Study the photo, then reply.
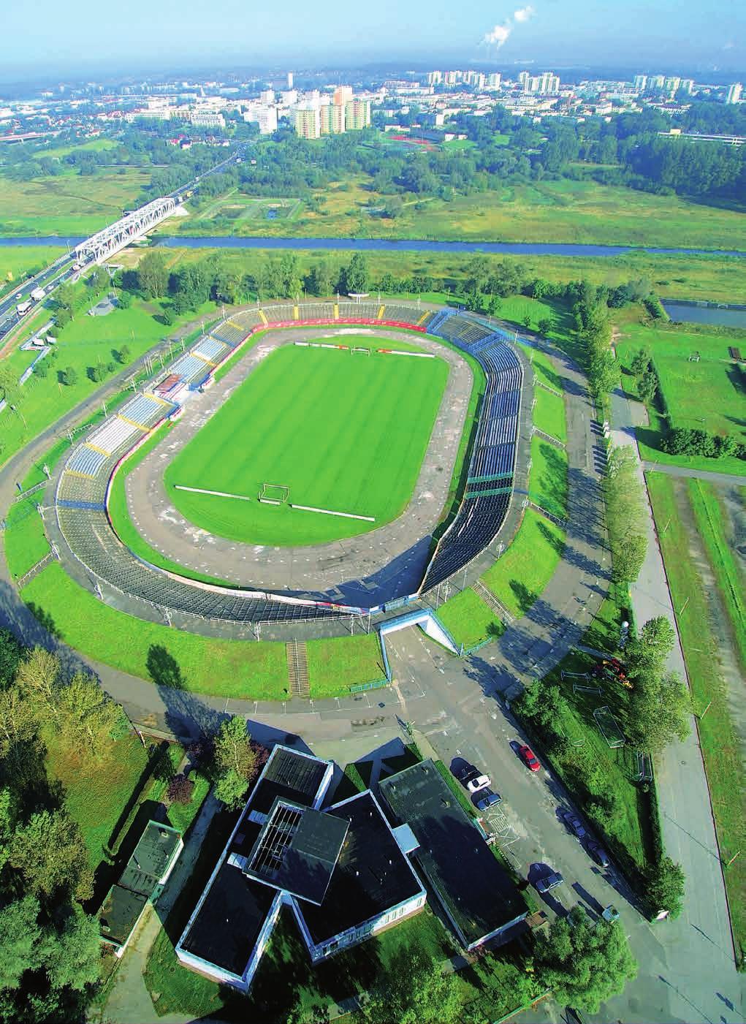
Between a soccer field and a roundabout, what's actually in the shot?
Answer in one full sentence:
The image shows a soccer field.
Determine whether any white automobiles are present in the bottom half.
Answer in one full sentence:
Yes, there is a white automobile in the bottom half.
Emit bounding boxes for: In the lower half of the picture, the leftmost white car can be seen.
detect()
[466,773,492,793]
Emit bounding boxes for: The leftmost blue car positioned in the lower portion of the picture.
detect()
[476,792,502,812]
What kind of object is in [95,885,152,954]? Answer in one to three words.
shed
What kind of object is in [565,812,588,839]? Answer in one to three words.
car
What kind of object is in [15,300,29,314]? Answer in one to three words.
vehicle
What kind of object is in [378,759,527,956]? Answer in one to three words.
building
